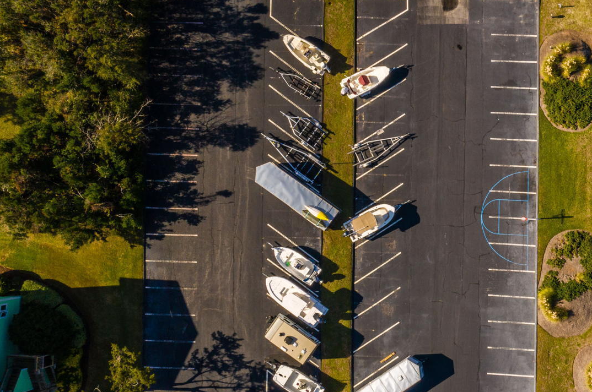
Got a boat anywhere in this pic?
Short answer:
Yes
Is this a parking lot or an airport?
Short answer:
parking lot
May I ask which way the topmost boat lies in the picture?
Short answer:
at an angle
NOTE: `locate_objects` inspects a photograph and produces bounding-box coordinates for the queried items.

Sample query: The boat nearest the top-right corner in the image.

[340,66,390,99]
